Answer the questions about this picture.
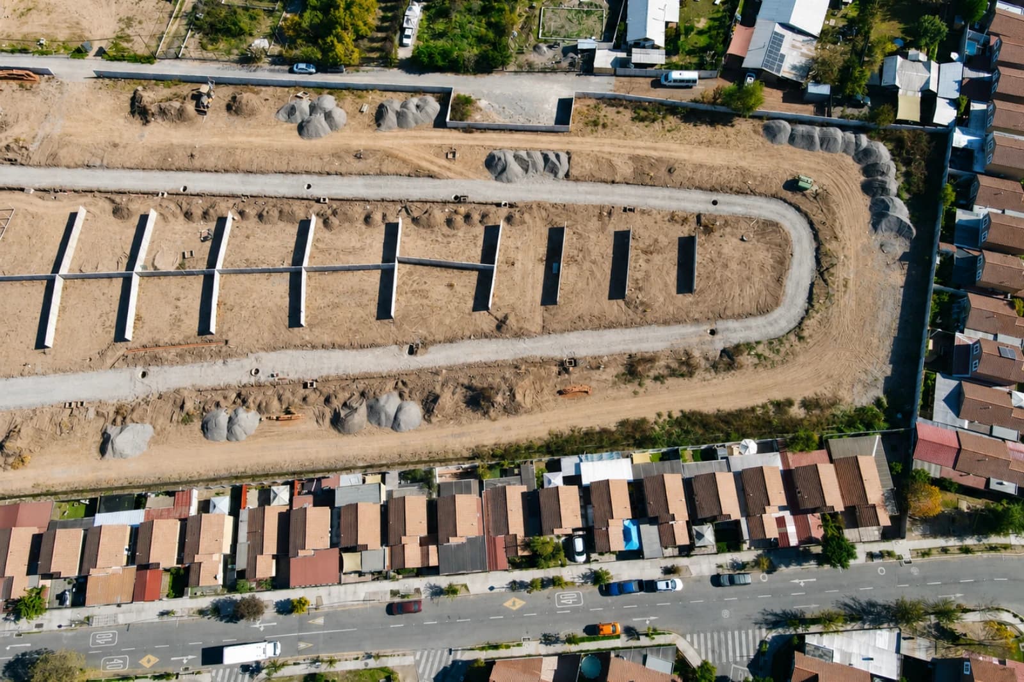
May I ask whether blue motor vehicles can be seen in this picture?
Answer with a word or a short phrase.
Yes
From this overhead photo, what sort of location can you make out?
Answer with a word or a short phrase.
residential area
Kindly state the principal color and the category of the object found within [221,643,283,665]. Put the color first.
white vehicle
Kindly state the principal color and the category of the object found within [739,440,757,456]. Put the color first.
white umbrella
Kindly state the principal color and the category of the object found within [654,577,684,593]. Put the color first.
white car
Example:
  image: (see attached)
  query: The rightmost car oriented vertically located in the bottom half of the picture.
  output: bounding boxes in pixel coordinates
[572,534,586,564]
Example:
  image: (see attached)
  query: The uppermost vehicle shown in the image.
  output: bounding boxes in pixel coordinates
[402,26,414,46]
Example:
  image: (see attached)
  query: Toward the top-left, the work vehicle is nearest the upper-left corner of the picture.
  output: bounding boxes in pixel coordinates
[196,80,215,114]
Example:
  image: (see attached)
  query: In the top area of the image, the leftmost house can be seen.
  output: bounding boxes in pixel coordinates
[627,0,665,53]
